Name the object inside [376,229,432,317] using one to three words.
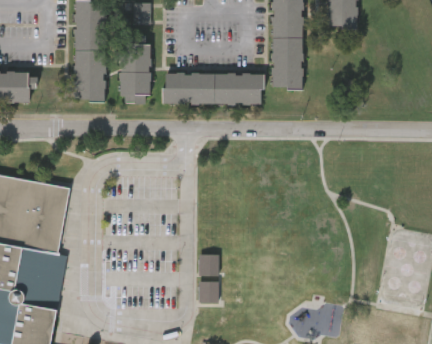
sports court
